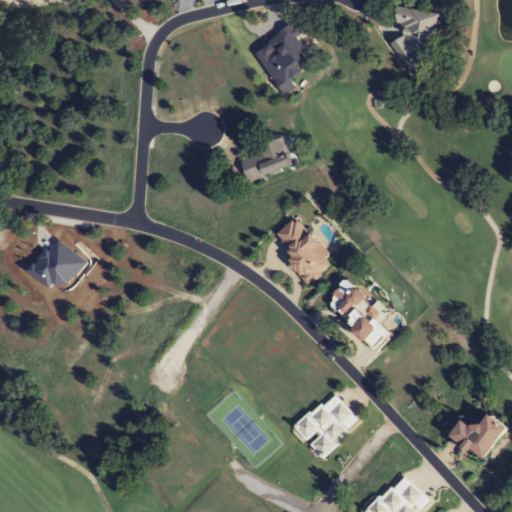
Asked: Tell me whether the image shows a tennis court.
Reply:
Yes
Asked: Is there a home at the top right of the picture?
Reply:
Yes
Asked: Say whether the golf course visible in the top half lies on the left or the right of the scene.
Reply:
right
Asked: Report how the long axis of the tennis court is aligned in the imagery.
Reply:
diagonally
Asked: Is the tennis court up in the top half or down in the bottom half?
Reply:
bottom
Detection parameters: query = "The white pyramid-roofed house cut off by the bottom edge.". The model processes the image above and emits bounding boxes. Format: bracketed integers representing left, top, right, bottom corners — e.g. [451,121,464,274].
[362,476,430,512]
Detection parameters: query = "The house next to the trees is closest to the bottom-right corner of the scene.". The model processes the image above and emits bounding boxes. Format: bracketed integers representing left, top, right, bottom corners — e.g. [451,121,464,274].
[448,412,509,460]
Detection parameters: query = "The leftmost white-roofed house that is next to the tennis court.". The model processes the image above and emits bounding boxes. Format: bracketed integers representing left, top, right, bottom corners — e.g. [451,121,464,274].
[292,395,360,459]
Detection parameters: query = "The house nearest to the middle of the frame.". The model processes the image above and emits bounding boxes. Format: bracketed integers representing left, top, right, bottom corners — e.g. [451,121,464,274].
[278,219,330,280]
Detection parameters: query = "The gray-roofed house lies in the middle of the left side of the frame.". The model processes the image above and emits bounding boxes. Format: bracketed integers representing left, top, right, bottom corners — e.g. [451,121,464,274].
[26,240,88,290]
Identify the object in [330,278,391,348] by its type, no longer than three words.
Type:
house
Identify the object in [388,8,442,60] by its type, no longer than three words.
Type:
house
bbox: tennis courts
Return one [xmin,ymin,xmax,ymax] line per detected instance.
[208,391,284,468]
